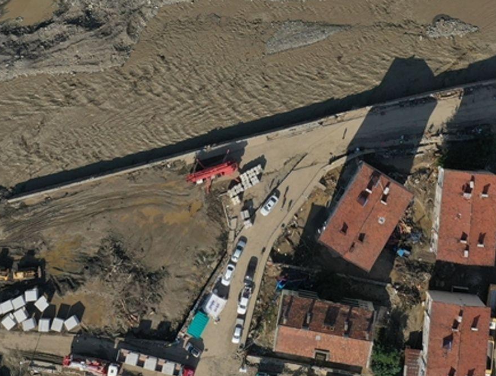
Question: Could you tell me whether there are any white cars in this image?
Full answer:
Yes, the picture does show a white car.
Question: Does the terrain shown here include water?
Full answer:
Yes, some water is visible.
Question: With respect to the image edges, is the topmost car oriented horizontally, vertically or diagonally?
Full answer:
Seen from above, the topmost car lies diagonally.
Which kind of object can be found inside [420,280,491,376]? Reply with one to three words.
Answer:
house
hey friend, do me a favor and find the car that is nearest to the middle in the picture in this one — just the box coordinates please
[259,190,280,217]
